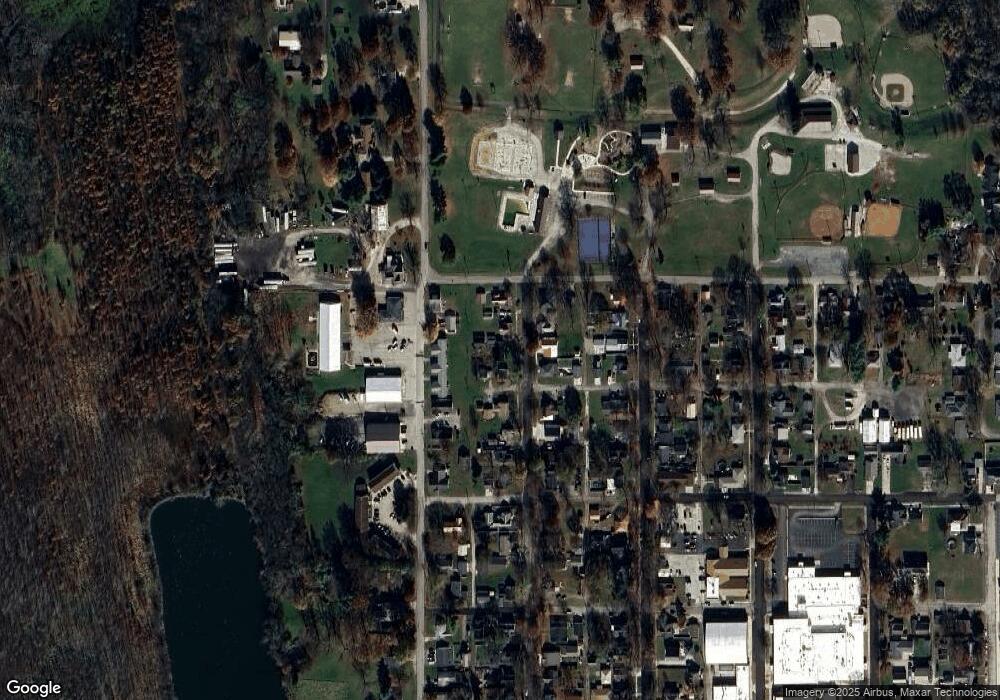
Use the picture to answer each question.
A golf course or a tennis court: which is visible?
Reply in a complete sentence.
It is a tennis court that can be seen here.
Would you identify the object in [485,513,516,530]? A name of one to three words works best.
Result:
house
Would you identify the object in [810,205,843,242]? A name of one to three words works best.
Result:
baseball field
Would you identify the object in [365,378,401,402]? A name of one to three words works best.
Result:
building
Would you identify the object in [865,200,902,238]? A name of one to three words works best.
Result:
baseball field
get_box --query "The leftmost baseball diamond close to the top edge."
[808,14,843,49]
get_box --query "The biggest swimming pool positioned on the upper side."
[497,191,531,233]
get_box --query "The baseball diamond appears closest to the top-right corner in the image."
[880,73,913,110]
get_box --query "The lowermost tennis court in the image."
[578,219,610,263]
